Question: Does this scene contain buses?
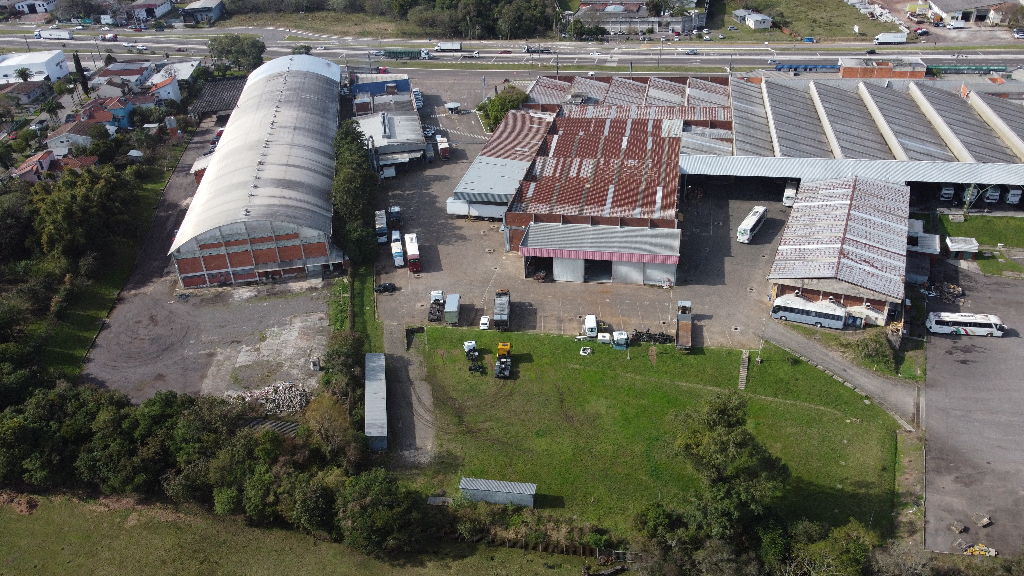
Yes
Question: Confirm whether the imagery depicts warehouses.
Yes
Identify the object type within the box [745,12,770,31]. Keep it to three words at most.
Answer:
house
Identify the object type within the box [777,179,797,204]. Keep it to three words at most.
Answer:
bus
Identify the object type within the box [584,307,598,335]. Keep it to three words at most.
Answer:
vehicle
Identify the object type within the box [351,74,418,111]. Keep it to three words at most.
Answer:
building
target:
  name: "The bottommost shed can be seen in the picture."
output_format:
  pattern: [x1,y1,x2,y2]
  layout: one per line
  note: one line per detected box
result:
[457,474,539,508]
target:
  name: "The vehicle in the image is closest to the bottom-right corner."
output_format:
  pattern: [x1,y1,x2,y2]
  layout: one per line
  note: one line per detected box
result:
[928,309,1011,336]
